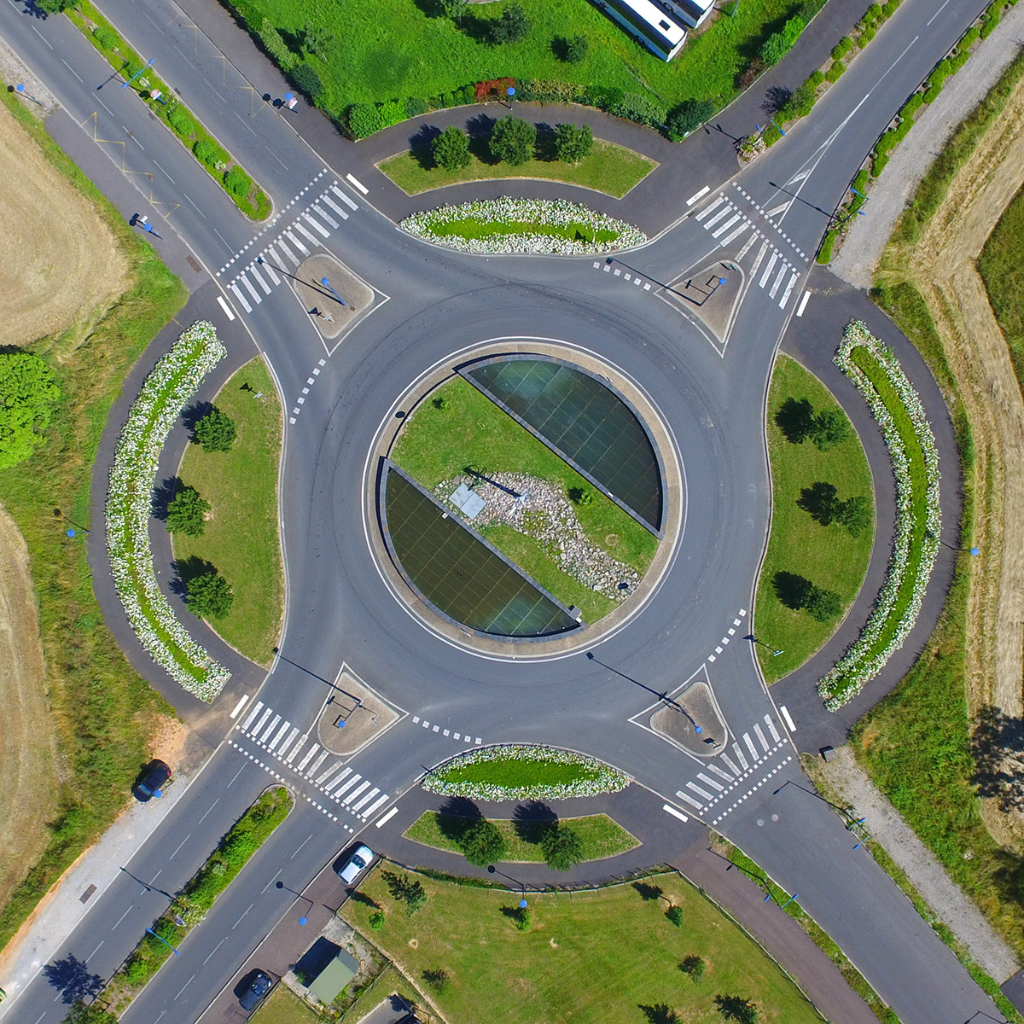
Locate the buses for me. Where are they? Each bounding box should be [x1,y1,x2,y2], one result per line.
[662,0,714,25]
[589,0,688,59]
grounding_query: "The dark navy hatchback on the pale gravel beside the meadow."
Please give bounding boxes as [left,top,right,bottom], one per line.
[134,757,172,803]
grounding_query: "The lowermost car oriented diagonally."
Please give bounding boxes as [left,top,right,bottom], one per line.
[235,967,274,1014]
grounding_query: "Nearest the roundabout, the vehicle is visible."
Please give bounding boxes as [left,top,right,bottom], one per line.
[334,845,375,889]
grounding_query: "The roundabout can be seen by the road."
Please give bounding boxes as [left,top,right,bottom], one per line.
[266,216,785,781]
